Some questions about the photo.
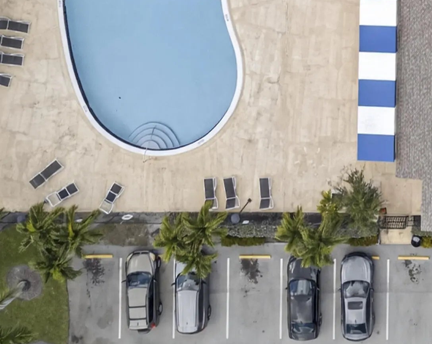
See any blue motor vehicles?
No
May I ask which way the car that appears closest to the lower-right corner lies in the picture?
from top to bottom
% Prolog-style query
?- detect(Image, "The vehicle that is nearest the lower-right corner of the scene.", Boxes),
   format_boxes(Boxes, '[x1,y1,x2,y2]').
[337,251,376,342]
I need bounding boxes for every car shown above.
[337,251,376,342]
[285,257,323,343]
[171,252,214,338]
[122,250,165,334]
